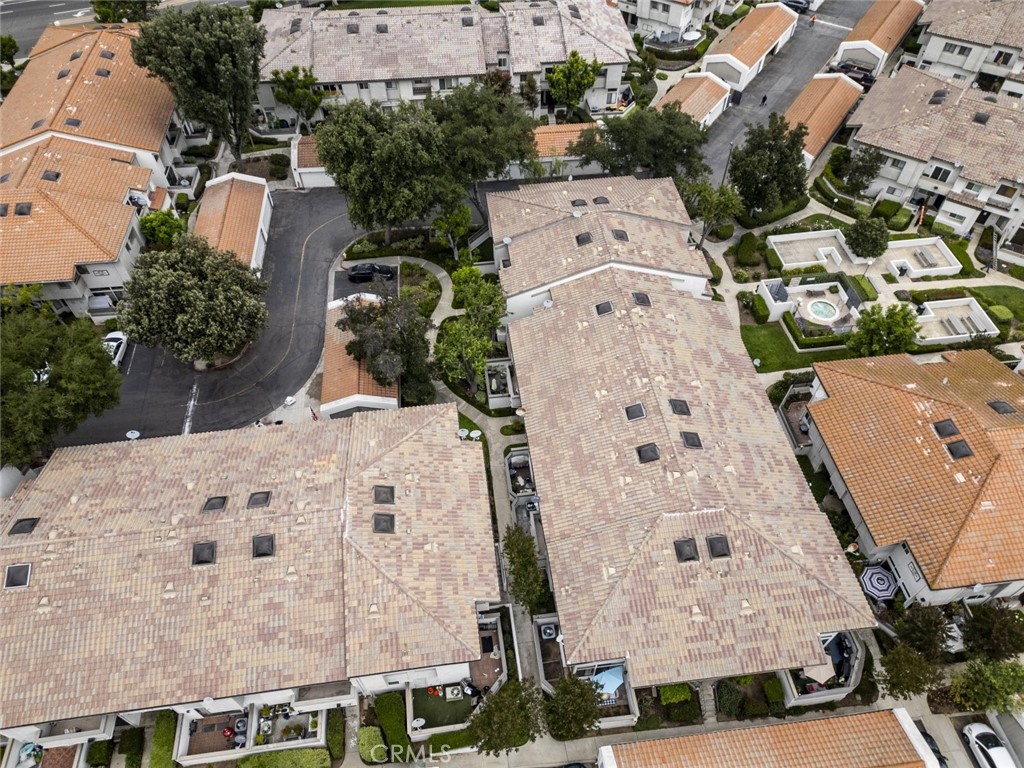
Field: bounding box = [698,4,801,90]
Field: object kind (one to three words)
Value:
building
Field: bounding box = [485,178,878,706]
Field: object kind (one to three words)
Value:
house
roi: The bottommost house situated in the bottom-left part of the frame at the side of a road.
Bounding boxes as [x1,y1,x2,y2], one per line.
[0,402,502,749]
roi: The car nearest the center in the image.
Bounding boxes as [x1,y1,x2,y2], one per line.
[347,259,395,282]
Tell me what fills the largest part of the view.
buildings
